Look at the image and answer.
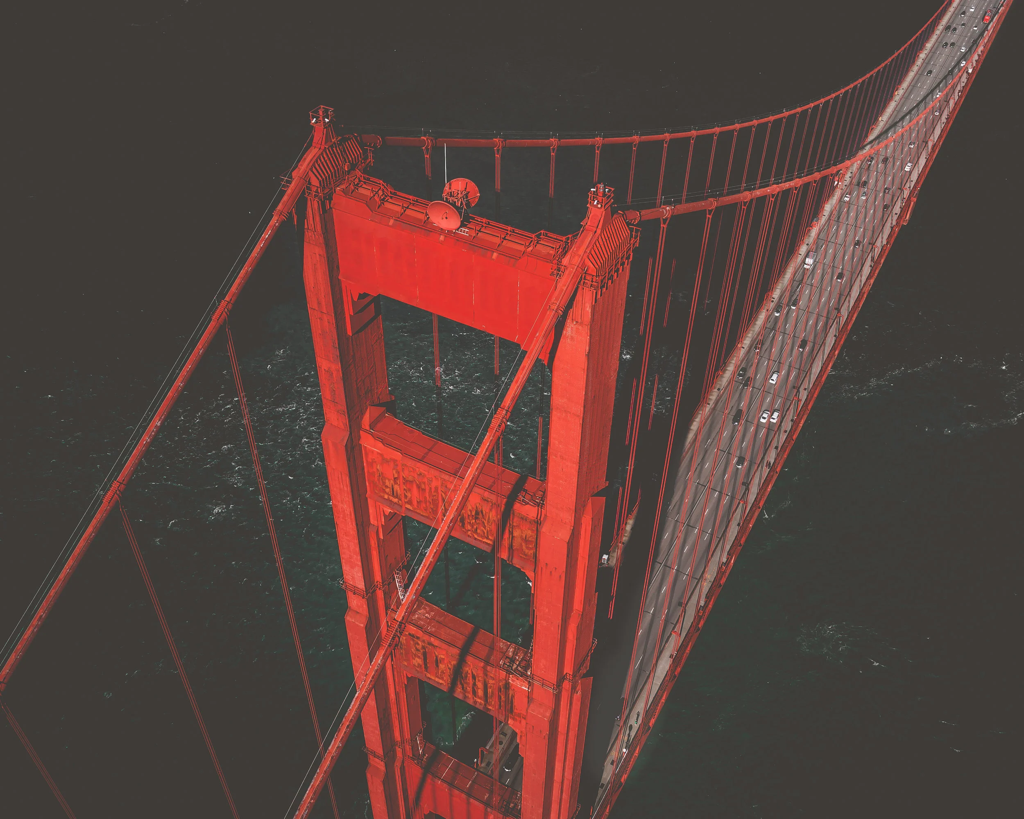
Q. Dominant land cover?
water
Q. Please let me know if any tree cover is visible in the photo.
No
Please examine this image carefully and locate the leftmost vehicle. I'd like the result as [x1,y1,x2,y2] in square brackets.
[503,745,521,771]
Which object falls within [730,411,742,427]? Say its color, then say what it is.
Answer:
black vehicle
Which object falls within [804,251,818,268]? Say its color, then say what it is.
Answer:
white vehicle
